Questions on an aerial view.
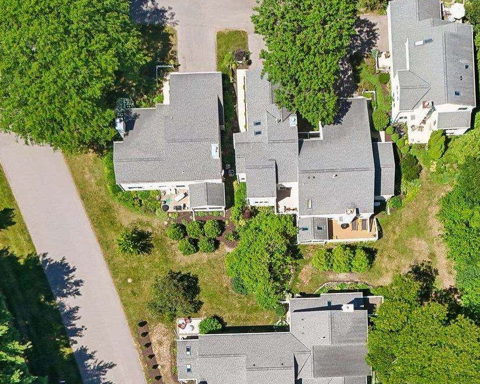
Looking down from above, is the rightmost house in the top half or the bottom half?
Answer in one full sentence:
The rightmost house sits in the top half of the picture.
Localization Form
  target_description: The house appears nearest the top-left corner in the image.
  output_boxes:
[114,71,225,210]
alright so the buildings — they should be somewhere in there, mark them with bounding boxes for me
[114,71,225,210]
[176,292,369,384]
[386,0,476,133]
[233,70,395,245]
